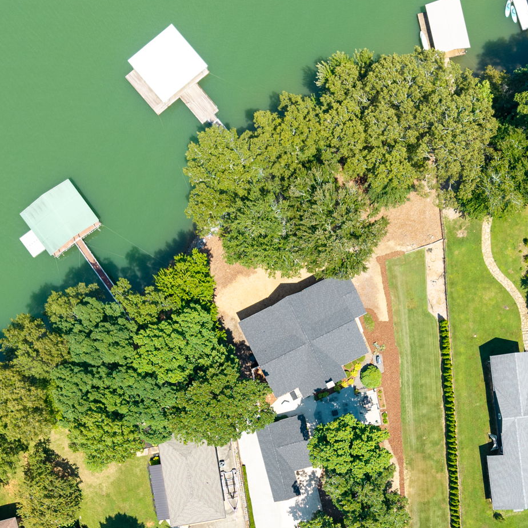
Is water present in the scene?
Yes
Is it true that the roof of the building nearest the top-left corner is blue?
No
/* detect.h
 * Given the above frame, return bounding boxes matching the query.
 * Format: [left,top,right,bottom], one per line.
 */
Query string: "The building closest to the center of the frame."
[239,272,370,399]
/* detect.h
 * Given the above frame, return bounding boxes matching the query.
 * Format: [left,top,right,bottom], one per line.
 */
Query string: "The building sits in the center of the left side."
[19,178,103,259]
